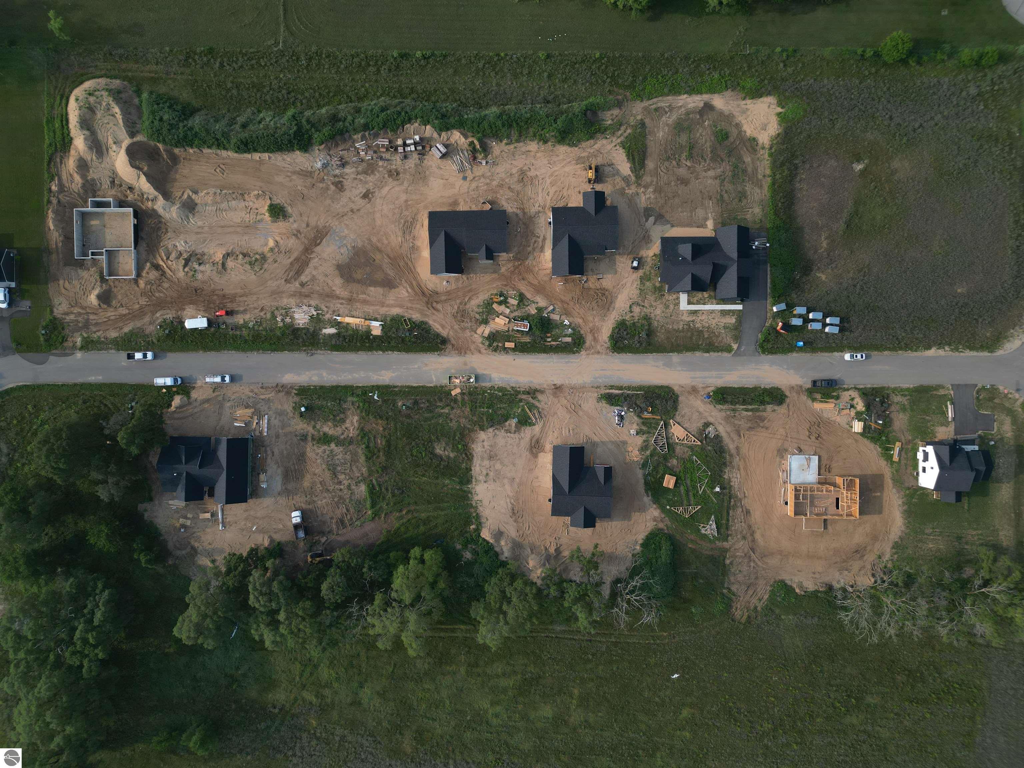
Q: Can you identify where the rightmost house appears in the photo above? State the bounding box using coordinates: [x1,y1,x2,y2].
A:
[913,442,987,500]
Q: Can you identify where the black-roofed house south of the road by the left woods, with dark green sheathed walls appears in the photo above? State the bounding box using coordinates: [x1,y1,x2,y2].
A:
[155,437,252,507]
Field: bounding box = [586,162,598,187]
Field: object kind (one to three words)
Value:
vehicle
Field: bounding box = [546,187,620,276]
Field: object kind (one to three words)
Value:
house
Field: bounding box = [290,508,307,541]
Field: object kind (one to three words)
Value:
vehicle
